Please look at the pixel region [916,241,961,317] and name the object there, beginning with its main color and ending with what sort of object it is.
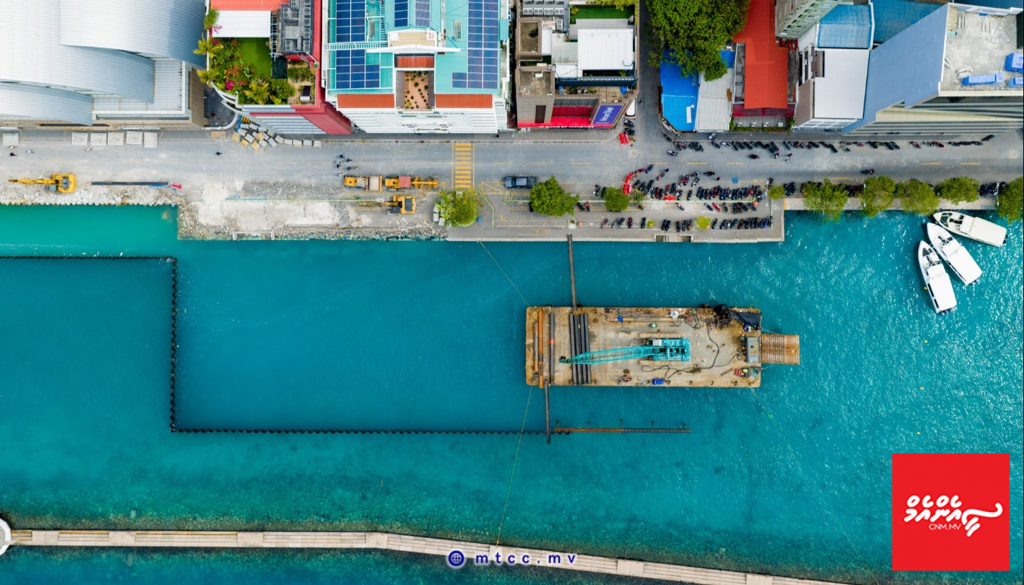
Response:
white boat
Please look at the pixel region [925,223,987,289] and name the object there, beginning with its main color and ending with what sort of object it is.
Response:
white boat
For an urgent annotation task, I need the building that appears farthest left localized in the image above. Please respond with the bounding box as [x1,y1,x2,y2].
[0,0,207,137]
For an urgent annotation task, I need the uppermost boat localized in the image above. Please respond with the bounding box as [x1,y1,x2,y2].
[931,210,1011,247]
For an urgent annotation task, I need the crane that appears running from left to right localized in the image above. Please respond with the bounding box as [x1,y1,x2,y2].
[547,331,690,365]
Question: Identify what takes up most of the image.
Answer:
water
